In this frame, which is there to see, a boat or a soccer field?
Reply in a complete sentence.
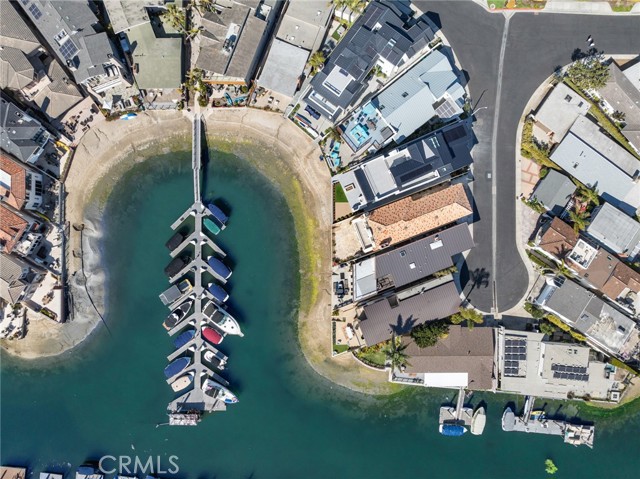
It is a boat that can be seen here.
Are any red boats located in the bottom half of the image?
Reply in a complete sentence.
Yes, you'll find a red boat in the bottom half of the image.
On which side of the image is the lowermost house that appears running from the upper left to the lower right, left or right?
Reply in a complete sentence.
The lowermost house that appears running from the upper left to the lower right sits on the right side.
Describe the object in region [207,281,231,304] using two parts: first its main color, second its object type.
blue boat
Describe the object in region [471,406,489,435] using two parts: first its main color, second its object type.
white boat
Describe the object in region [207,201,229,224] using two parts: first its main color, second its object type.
blue boat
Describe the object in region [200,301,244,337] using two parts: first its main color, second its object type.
white boat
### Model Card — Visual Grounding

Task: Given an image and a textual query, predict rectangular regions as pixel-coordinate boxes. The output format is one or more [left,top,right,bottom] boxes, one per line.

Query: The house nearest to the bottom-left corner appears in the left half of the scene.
[0,243,52,303]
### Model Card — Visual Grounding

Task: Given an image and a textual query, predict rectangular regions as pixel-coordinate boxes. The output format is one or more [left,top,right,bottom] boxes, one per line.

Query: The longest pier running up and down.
[169,204,226,410]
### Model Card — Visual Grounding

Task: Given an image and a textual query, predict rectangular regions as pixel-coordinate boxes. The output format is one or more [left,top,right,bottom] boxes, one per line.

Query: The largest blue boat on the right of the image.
[439,424,468,438]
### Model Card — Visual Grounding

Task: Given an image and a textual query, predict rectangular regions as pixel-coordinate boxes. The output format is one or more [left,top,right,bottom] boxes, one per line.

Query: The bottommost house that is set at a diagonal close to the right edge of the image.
[532,273,636,362]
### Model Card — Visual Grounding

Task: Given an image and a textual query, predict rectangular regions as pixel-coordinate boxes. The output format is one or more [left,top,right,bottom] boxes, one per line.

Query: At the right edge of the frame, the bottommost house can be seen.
[494,327,613,396]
